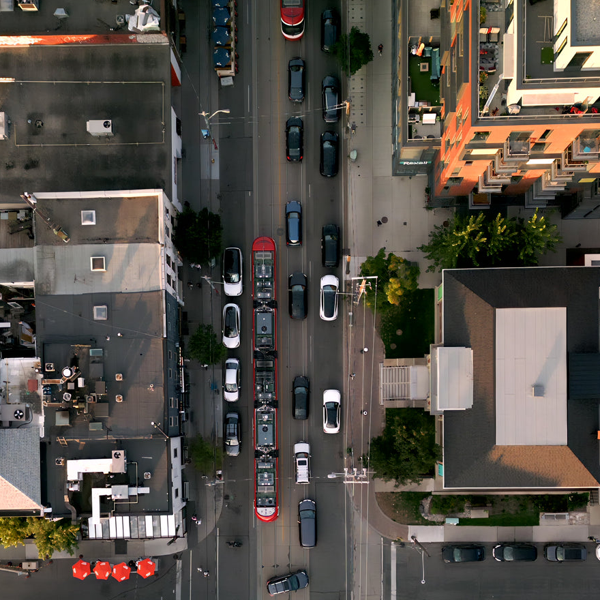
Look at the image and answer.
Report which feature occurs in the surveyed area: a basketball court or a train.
train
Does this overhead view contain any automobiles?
Yes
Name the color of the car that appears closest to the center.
black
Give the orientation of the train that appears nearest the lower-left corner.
from top to bottom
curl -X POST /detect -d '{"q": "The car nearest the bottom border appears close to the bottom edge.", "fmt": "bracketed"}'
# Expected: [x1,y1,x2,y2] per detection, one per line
[266,569,309,595]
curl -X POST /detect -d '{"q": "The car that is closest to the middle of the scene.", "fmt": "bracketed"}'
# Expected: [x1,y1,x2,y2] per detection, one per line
[287,274,308,320]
